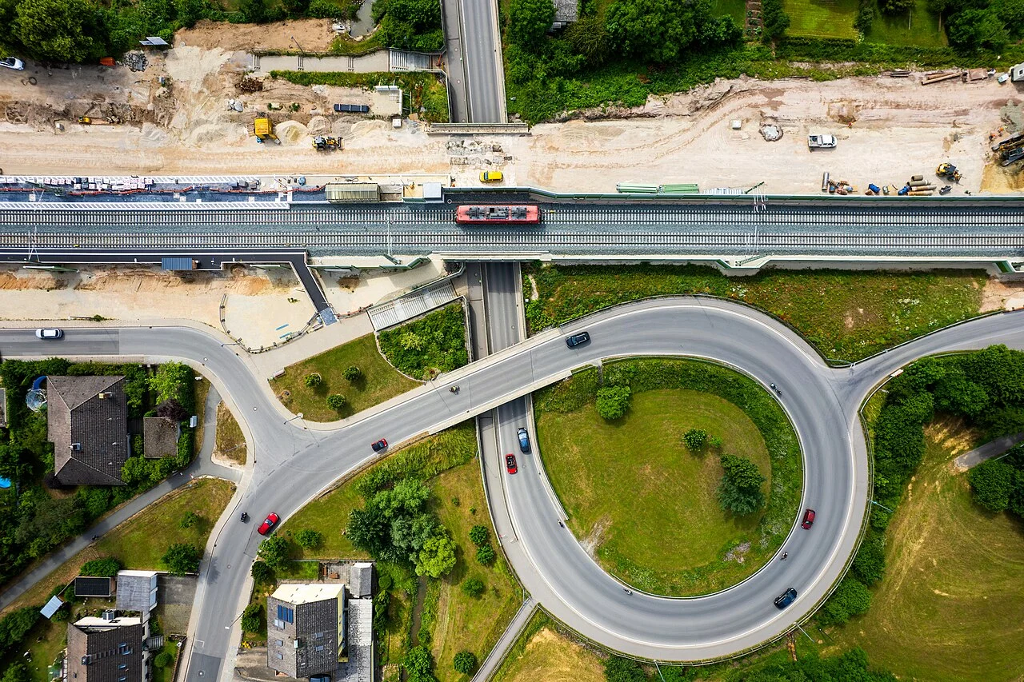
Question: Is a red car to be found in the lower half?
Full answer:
Yes, looking in the lower half, one can make out a red car.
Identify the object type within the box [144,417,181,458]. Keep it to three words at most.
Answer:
building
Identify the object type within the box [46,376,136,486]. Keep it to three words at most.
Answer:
house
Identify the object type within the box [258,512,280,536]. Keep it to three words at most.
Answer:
car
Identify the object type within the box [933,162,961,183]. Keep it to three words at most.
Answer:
work vehicle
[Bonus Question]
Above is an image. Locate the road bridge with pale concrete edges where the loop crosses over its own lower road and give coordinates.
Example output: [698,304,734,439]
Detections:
[429,327,572,437]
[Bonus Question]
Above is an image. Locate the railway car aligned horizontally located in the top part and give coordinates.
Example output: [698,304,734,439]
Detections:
[455,206,540,224]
